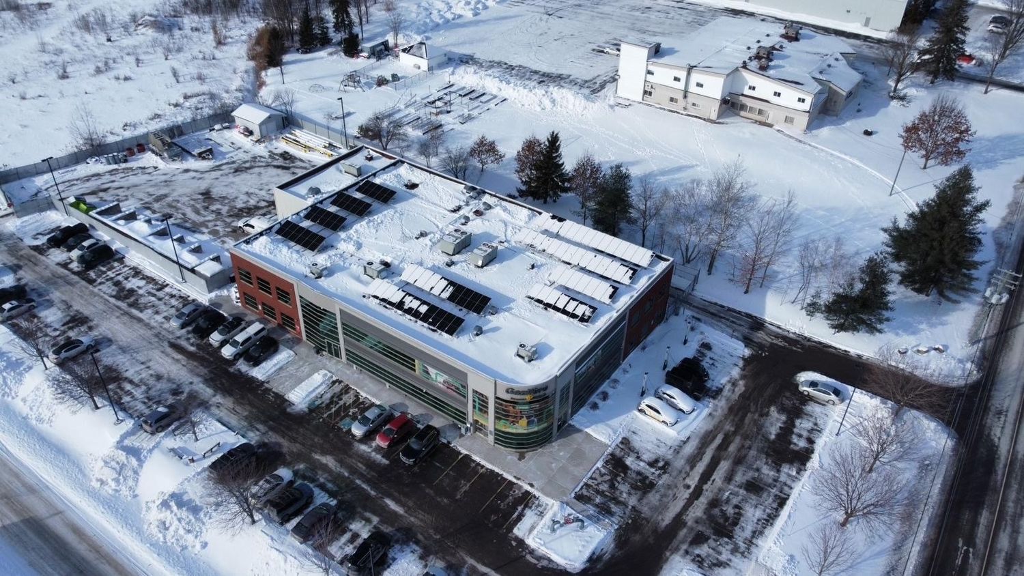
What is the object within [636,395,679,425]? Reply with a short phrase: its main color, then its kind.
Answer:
white car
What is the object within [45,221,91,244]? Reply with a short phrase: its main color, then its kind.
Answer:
black truck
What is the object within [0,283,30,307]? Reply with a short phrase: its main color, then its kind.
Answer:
black car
